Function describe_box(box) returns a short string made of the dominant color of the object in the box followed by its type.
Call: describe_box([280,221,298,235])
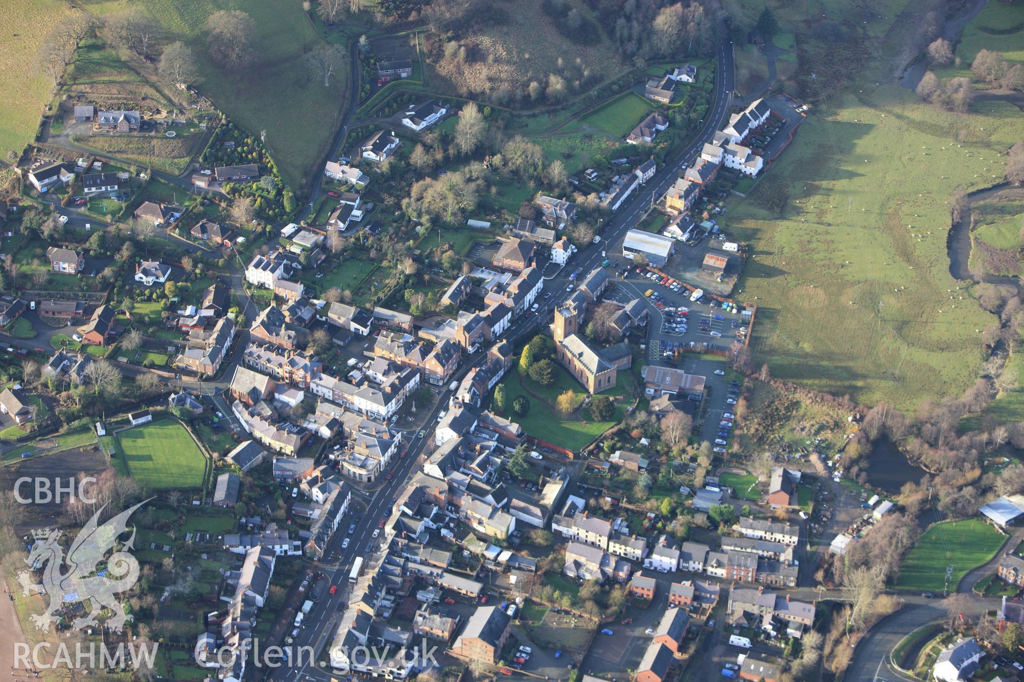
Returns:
white vehicle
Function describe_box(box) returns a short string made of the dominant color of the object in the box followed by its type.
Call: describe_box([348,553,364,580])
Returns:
white vehicle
